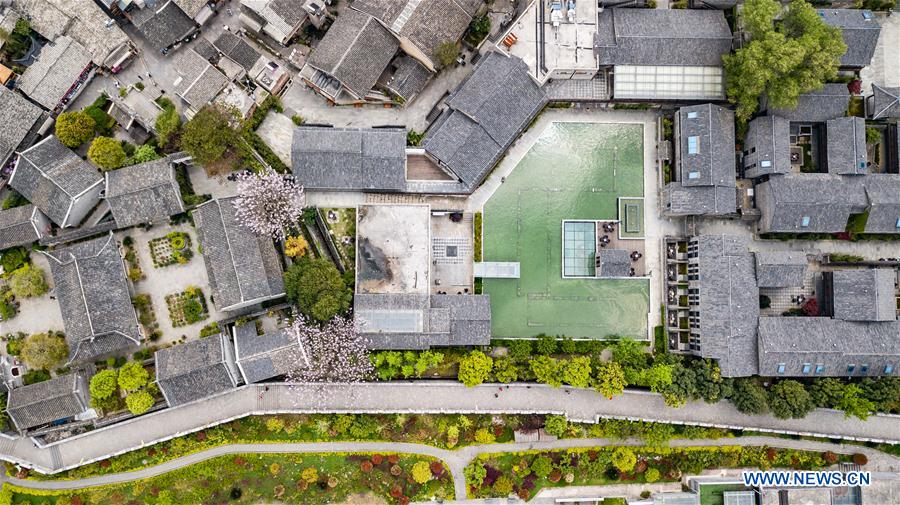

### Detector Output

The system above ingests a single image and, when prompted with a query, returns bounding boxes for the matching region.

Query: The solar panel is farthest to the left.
[263,54,282,74]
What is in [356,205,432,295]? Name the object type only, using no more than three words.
building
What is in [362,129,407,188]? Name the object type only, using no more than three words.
house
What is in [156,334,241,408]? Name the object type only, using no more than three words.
house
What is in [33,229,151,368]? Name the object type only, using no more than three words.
building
